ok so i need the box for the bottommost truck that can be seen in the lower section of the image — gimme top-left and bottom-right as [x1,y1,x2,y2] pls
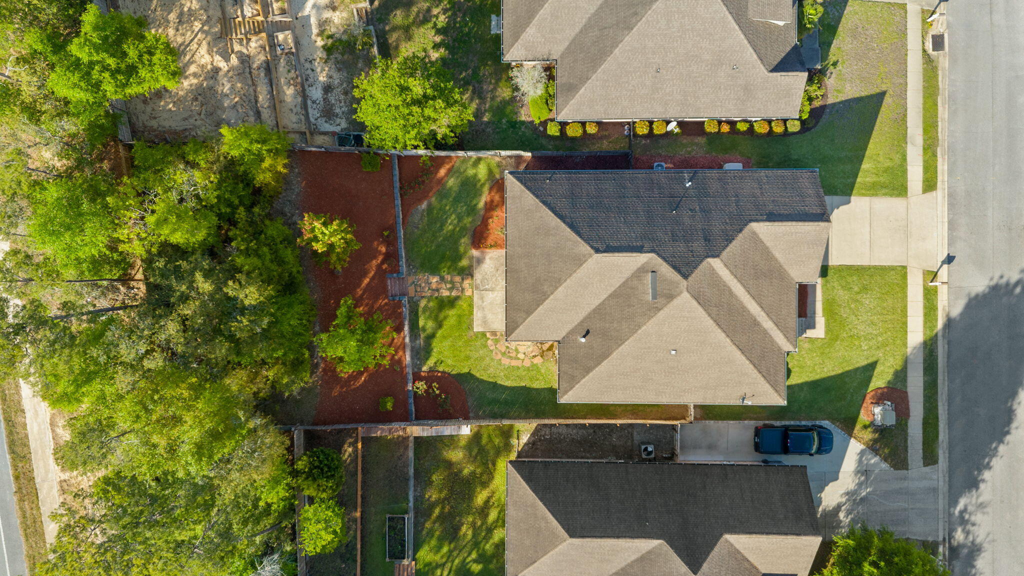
[751,425,830,458]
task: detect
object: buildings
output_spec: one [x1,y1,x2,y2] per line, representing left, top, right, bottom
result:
[505,460,821,576]
[500,0,810,122]
[503,168,831,406]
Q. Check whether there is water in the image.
No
